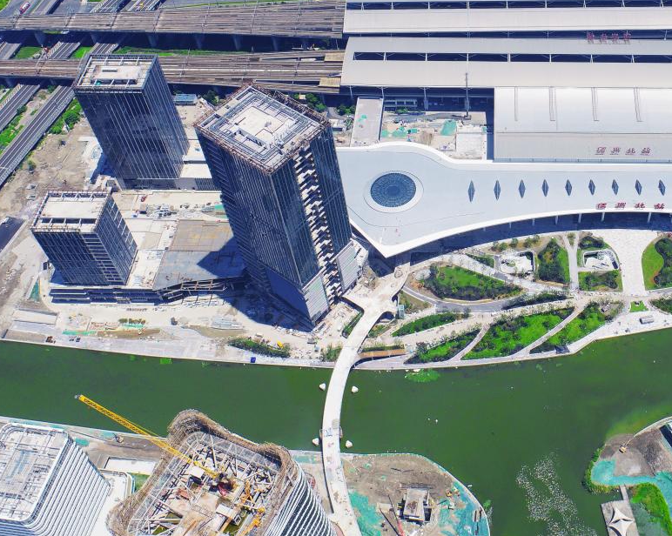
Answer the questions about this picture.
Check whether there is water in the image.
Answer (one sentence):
Yes, water can be seen from above here.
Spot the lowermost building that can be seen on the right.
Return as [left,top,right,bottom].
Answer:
[399,491,435,526]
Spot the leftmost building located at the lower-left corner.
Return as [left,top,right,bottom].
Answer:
[0,422,103,536]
